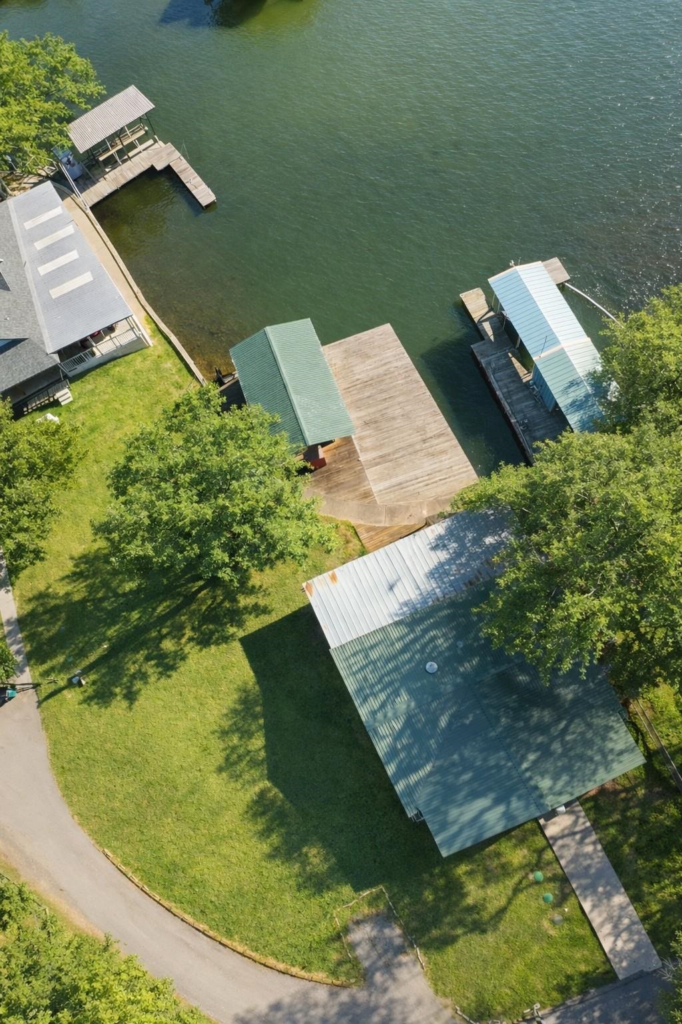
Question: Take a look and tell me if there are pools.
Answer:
No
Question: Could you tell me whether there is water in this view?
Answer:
Yes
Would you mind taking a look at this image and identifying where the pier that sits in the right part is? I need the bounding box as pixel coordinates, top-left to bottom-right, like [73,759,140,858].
[459,287,574,458]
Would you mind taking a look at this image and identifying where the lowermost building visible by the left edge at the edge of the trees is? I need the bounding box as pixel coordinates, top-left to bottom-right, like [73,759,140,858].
[0,172,153,401]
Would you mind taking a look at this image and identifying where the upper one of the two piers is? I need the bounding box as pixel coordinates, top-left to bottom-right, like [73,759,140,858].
[76,142,217,217]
